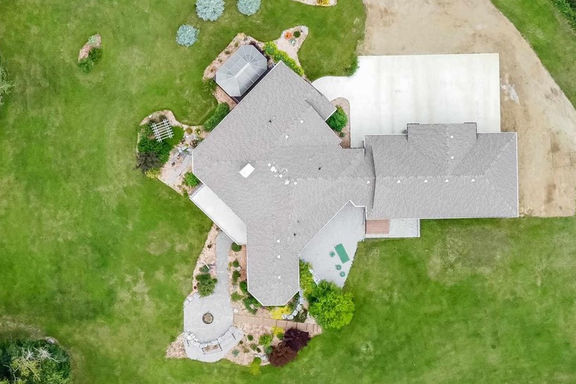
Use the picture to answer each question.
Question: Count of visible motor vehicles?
none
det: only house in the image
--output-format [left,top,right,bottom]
[191,60,519,306]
